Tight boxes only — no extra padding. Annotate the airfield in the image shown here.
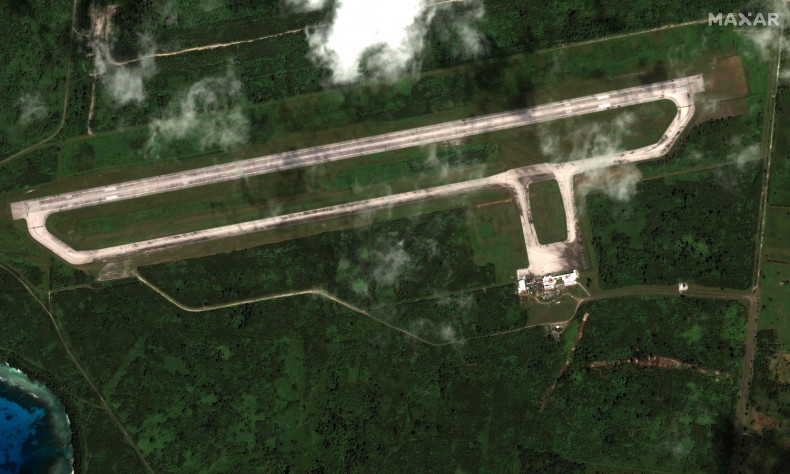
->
[0,16,761,326]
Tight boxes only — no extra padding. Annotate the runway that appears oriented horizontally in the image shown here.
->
[25,77,690,217]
